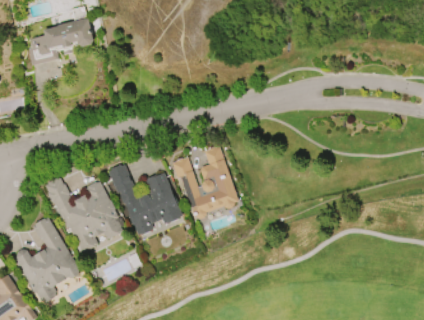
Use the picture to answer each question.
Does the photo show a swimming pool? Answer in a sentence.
Yes, the picture does show a swimming pool.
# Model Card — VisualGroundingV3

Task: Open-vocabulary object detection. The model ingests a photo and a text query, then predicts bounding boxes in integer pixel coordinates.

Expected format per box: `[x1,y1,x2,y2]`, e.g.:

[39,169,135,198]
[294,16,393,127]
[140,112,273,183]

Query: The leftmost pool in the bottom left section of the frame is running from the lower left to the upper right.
[68,284,91,303]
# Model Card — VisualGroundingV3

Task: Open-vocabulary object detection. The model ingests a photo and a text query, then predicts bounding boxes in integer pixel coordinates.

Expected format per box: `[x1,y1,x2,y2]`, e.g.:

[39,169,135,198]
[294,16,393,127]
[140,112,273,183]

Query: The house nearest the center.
[172,148,240,222]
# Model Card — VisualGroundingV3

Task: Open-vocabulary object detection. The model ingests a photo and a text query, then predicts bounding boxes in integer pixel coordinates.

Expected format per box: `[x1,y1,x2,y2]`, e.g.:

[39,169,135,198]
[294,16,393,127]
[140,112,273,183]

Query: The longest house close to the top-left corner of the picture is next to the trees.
[31,19,94,64]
